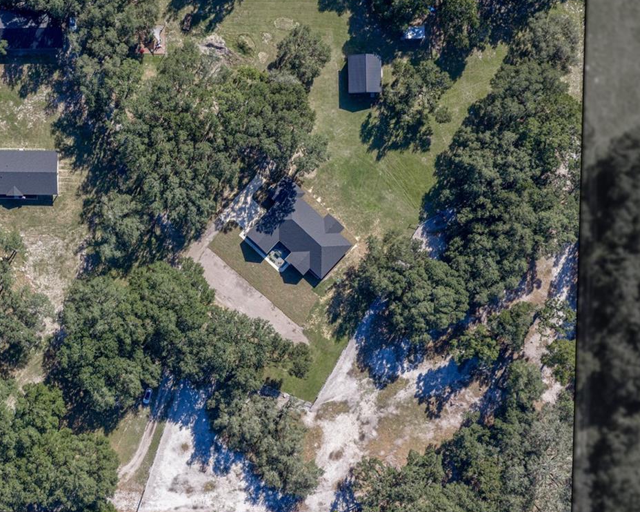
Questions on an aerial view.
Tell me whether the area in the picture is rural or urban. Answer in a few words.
rural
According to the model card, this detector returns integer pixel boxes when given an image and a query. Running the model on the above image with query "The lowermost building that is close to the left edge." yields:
[0,152,59,199]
